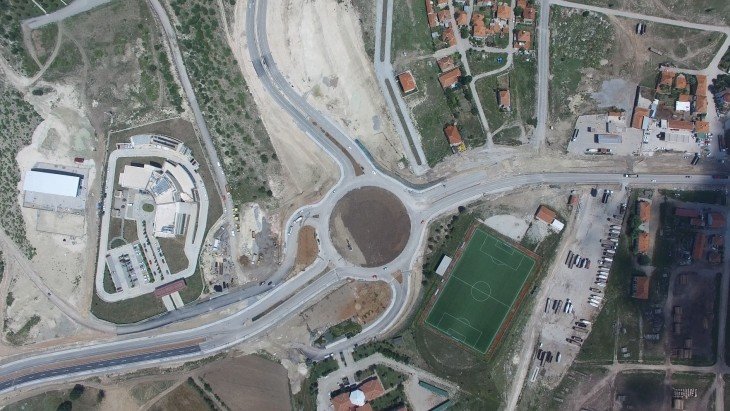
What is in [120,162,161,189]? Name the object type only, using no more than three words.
building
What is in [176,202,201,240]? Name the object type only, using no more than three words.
building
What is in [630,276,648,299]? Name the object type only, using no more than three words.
barn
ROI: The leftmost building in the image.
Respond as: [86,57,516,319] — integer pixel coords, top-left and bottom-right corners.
[24,171,85,197]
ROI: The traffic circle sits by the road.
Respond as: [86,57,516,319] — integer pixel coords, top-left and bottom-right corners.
[294,166,424,284]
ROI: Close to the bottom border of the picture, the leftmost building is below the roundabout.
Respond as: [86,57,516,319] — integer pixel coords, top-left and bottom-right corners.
[329,373,386,411]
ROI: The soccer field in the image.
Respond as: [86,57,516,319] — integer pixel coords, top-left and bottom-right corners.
[420,218,538,360]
